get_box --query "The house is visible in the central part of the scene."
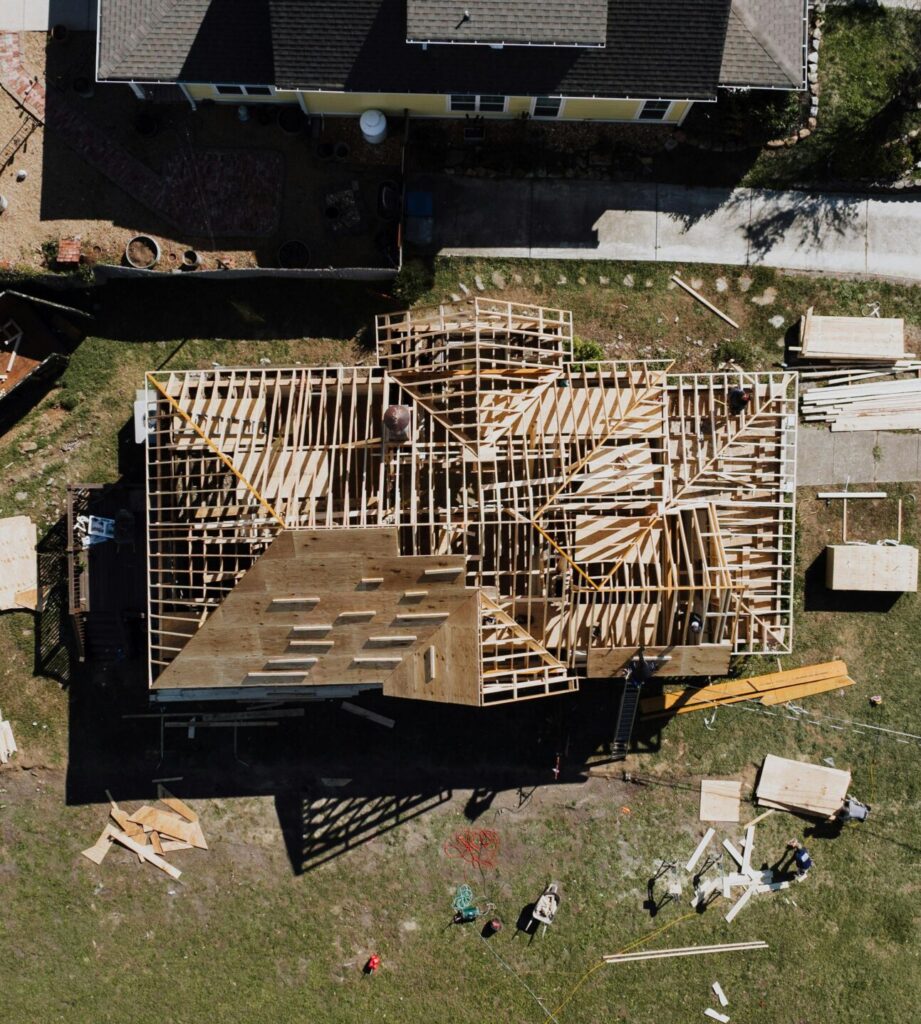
[148,297,798,706]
